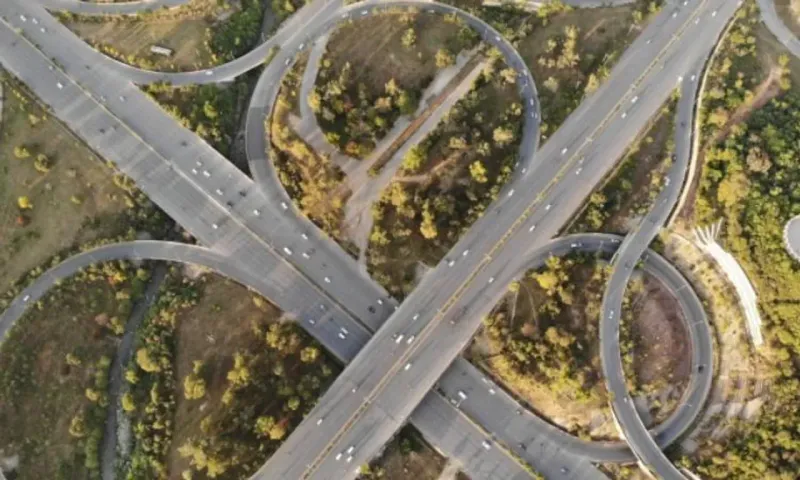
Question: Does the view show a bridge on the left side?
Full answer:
Yes, I can see a bridge on the left side.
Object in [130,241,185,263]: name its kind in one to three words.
bridge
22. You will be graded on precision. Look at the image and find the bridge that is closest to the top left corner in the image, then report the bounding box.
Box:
[217,47,267,80]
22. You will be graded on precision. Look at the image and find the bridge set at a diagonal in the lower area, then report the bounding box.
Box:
[305,249,505,468]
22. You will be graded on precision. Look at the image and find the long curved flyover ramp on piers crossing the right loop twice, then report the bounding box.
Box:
[599,185,688,480]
